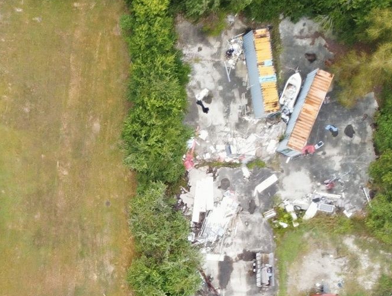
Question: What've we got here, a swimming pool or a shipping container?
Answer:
shipping container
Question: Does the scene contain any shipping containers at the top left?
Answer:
No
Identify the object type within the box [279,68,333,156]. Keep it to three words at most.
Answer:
shipping container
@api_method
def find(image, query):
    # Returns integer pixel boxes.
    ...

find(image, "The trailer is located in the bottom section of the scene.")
[251,252,274,289]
